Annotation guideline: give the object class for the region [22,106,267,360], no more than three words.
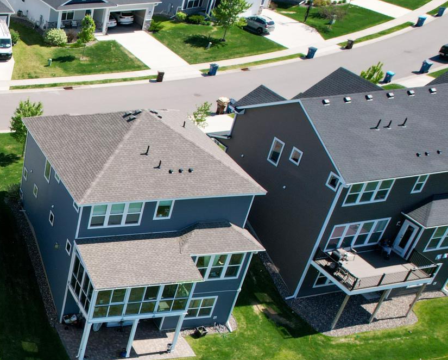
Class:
house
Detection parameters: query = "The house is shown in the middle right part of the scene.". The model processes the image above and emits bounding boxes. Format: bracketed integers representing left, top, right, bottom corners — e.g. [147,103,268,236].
[209,60,448,329]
